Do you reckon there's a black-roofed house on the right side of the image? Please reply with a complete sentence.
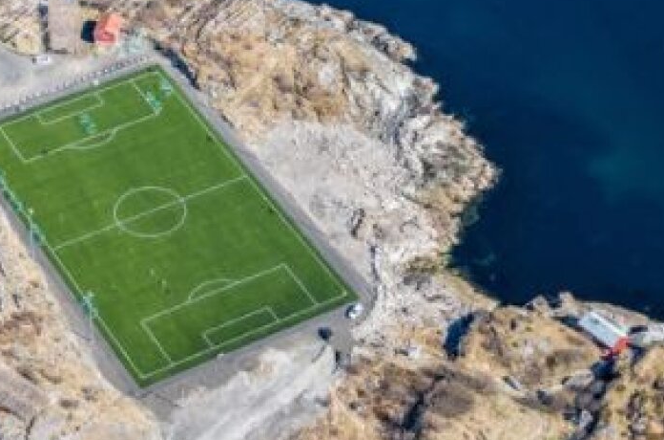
No, I can find no black-roofed house on the right side of the image.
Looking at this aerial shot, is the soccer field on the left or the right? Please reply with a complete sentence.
The soccer field sits on the left side.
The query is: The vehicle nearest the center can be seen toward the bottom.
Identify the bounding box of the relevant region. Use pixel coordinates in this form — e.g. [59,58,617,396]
[349,306,362,319]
